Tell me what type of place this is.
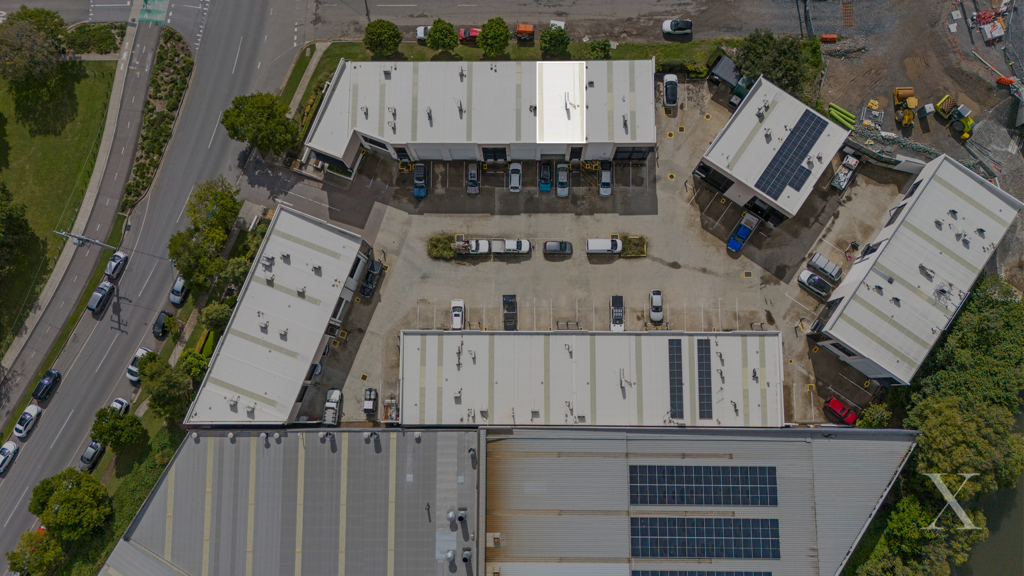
industrial area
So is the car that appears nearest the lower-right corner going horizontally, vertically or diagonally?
diagonally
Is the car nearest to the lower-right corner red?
Yes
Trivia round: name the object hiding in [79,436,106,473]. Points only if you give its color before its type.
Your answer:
gray car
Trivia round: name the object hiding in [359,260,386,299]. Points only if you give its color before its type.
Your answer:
black truck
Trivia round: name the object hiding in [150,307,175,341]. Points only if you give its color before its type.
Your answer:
black car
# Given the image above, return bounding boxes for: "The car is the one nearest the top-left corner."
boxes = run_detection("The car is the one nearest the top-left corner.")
[102,249,132,282]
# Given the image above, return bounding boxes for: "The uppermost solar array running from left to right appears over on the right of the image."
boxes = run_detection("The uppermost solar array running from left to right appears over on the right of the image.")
[630,466,778,507]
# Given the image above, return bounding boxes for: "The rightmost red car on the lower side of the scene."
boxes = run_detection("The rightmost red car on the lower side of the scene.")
[823,395,859,425]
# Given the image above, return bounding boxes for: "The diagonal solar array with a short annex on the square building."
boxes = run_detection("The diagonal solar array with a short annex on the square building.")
[758,110,828,200]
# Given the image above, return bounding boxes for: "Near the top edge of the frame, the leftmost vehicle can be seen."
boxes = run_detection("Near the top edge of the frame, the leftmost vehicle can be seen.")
[412,24,433,42]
